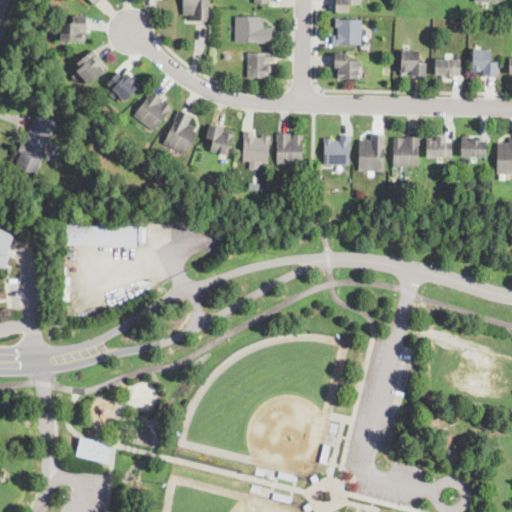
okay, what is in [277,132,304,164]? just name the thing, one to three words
house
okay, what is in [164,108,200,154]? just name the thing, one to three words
house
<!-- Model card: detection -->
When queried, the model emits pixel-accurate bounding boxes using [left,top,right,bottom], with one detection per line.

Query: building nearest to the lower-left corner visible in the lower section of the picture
[75,438,113,465]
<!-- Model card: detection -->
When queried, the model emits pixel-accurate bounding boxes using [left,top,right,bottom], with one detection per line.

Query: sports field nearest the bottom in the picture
[162,474,304,512]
